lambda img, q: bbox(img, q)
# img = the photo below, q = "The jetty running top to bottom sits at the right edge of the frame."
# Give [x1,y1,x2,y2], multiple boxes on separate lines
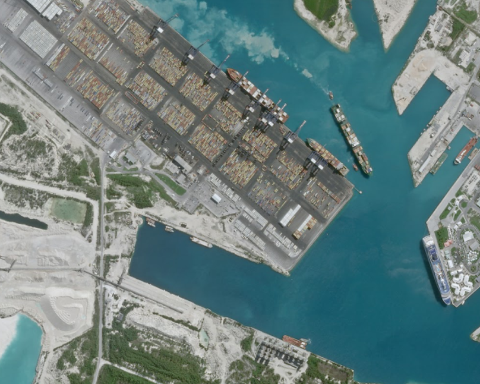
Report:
[427,102,480,307]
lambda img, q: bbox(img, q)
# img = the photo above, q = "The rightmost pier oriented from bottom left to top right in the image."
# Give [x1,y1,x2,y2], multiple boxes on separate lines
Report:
[410,121,463,188]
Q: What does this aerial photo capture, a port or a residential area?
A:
port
